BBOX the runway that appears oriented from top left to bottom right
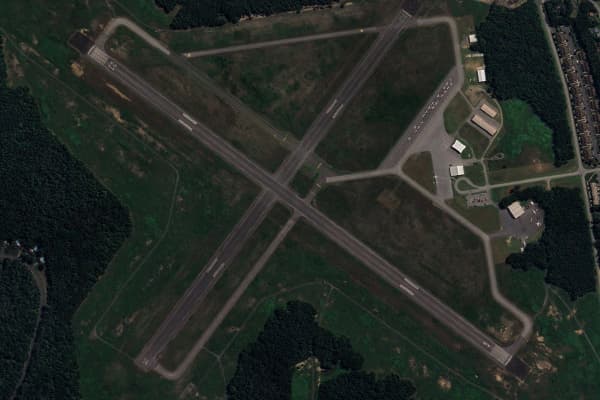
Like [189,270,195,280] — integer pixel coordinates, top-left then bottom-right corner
[87,43,513,367]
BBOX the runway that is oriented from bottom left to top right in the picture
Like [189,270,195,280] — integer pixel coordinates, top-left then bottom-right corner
[138,8,414,368]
